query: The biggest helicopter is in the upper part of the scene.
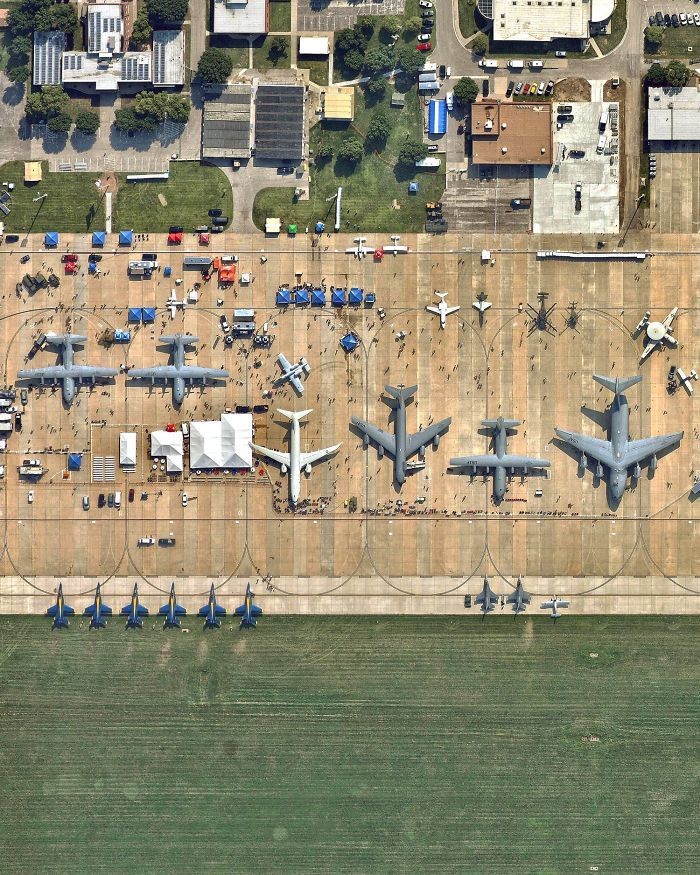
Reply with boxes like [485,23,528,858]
[527,294,557,332]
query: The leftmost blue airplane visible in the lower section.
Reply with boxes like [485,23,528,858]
[46,582,74,628]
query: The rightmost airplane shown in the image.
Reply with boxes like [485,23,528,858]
[678,367,698,393]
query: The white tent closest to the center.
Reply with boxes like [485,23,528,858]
[221,412,255,467]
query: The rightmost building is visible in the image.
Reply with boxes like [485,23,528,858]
[648,85,700,140]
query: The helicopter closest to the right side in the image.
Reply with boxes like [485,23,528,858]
[562,303,583,328]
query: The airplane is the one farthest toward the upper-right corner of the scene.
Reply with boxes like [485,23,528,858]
[635,307,677,360]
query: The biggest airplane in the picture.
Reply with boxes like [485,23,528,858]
[555,373,685,499]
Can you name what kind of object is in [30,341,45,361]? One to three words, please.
vehicle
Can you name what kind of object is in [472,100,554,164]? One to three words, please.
building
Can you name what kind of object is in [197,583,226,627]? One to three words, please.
airplane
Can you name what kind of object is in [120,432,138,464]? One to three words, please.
tent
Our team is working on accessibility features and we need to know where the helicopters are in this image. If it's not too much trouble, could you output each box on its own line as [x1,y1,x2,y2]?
[562,303,583,328]
[527,294,557,332]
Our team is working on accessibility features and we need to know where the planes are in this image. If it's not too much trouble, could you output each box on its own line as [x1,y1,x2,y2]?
[271,352,310,393]
[158,582,187,627]
[350,381,450,484]
[426,291,460,329]
[234,583,263,628]
[121,583,150,628]
[473,291,491,326]
[17,331,117,403]
[539,596,569,617]
[450,417,550,497]
[508,575,532,614]
[635,307,677,360]
[46,582,74,628]
[84,582,112,628]
[345,234,374,257]
[382,236,409,255]
[250,408,342,504]
[475,576,499,614]
[166,291,186,316]
[197,583,226,627]
[555,373,685,499]
[128,331,228,403]
[678,367,698,393]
